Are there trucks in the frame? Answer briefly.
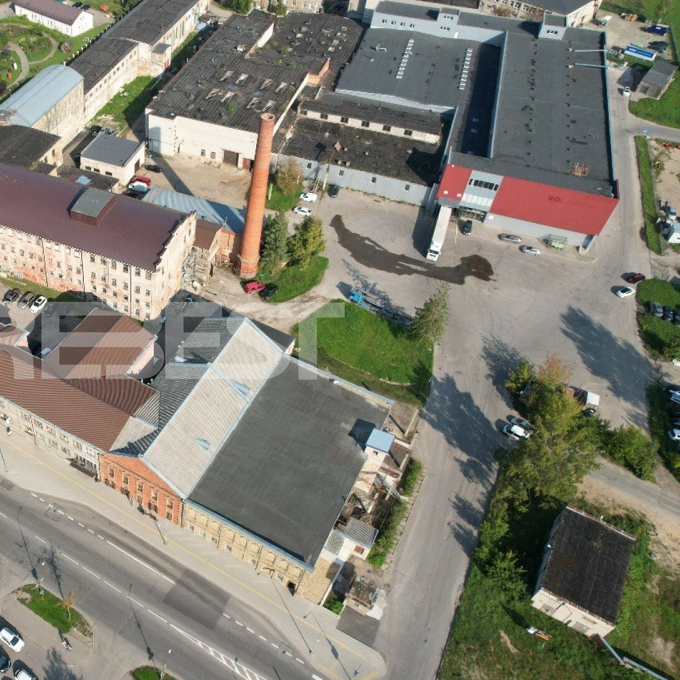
Yes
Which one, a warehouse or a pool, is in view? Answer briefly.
warehouse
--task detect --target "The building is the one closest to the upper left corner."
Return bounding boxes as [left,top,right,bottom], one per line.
[12,0,94,41]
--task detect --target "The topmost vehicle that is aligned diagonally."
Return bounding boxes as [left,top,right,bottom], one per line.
[601,13,614,27]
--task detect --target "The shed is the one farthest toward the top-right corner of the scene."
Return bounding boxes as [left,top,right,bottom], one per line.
[637,59,680,101]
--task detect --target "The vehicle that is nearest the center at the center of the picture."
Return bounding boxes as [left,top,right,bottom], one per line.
[342,293,410,335]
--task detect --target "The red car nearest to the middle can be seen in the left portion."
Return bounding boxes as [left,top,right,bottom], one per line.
[243,280,266,293]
